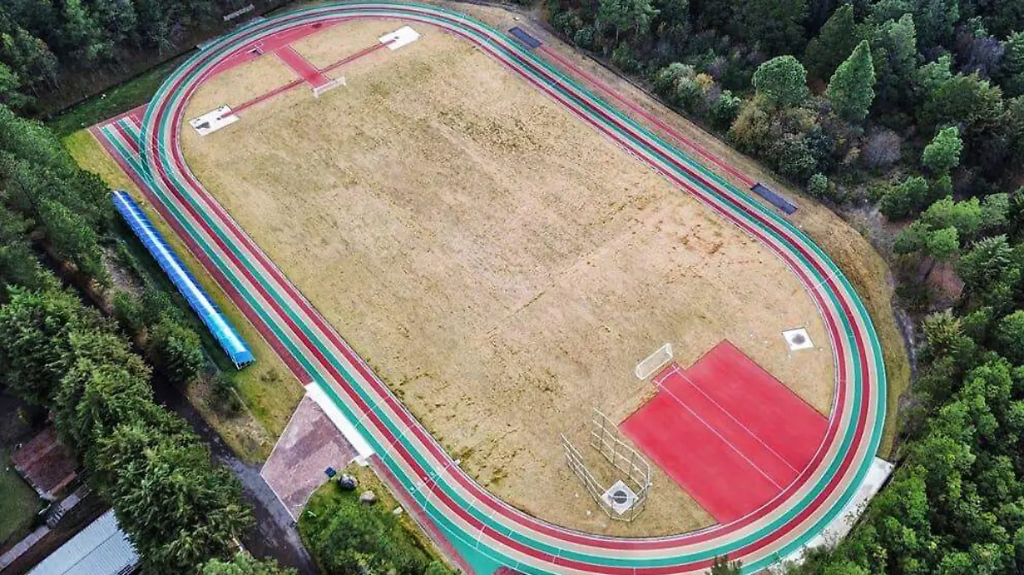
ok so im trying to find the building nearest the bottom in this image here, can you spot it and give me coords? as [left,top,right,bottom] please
[14,511,141,575]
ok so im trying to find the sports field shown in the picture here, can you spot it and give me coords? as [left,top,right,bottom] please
[182,19,832,534]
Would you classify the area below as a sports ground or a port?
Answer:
sports ground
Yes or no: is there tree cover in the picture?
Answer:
Yes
